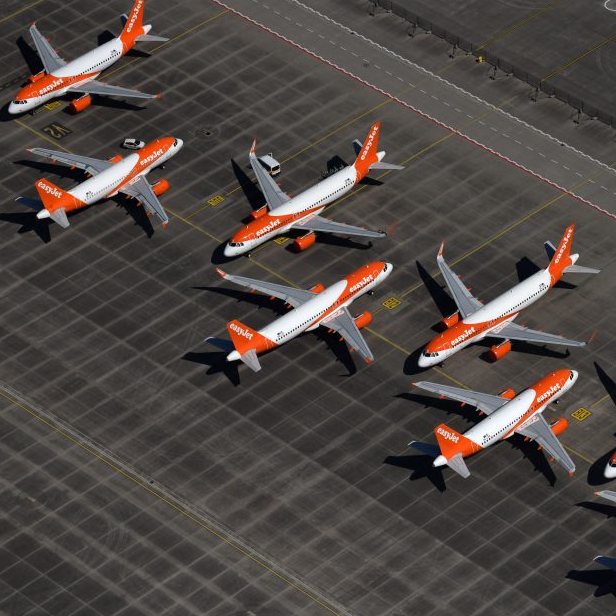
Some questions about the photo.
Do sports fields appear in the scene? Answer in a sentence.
No, I can't see a single sports field in this photo.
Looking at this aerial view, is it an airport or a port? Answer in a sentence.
This looks like an airport.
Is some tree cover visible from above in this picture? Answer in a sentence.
No, the picture contains no tree cover.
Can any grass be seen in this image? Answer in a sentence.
No, there is no grass in the image.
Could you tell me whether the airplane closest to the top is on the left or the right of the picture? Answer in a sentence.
The airplane closest to the top is on the left side of the image.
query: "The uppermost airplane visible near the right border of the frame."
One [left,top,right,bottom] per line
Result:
[416,223,602,366]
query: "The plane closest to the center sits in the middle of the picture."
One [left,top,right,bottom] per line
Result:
[203,262,392,372]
